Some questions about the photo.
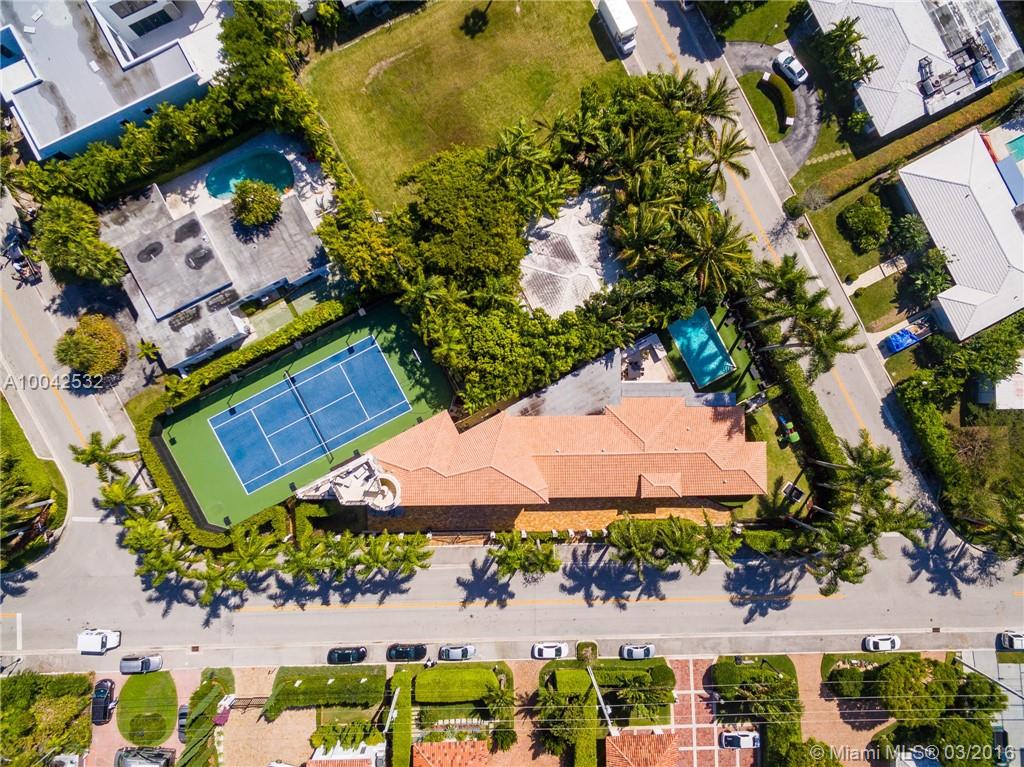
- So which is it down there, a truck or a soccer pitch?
truck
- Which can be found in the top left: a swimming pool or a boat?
swimming pool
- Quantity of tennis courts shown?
1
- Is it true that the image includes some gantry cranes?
No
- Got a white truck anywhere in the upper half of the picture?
Yes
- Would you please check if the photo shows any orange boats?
No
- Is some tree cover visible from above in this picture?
Yes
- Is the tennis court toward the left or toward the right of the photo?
left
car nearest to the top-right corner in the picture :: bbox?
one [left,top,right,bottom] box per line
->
[775,49,807,87]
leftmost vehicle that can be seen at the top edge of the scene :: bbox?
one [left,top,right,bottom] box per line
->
[592,0,643,66]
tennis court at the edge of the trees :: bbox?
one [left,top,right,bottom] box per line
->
[163,308,456,528]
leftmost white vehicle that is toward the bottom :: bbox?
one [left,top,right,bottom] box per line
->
[71,630,122,656]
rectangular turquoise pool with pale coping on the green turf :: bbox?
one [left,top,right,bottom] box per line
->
[668,305,739,391]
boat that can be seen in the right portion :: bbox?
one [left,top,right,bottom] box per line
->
[876,321,933,359]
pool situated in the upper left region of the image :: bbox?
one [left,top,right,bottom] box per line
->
[204,146,297,203]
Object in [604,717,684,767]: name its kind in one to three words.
house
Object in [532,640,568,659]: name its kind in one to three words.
car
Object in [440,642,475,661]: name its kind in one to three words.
car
